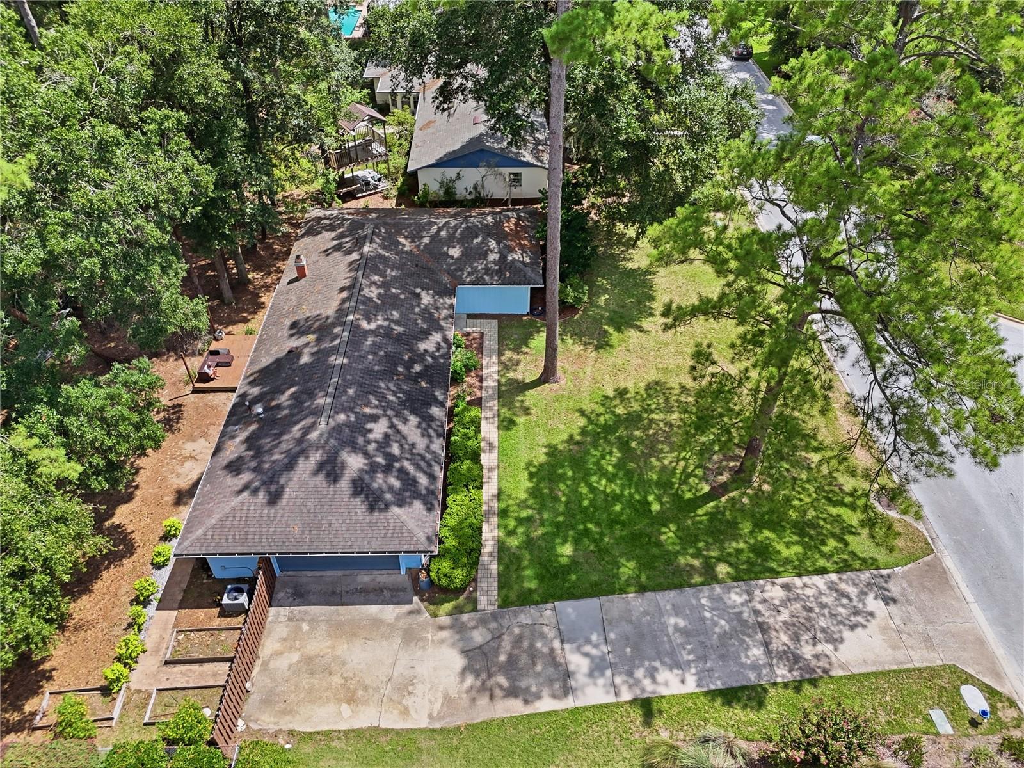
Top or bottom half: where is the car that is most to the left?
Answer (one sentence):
Seen from above, the car that is most to the left lies in the top half of the view.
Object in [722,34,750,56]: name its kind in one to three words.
car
